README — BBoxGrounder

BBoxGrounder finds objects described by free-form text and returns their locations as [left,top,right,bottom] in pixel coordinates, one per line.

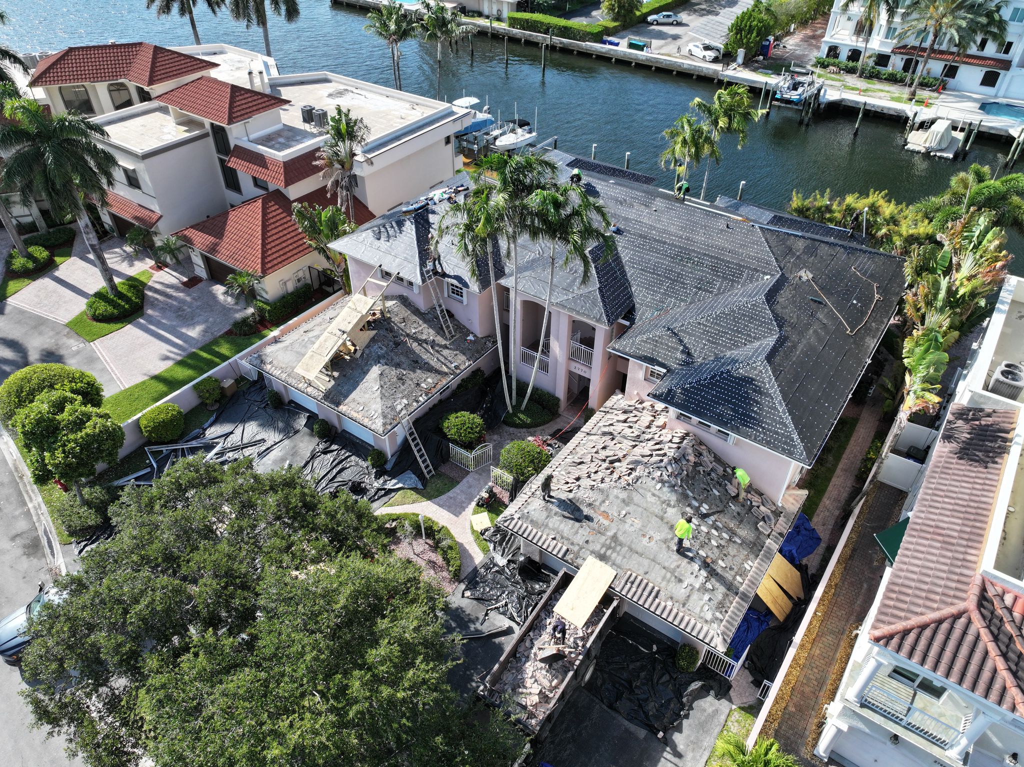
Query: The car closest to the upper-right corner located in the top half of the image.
[688,40,722,57]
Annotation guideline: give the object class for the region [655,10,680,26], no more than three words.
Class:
car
